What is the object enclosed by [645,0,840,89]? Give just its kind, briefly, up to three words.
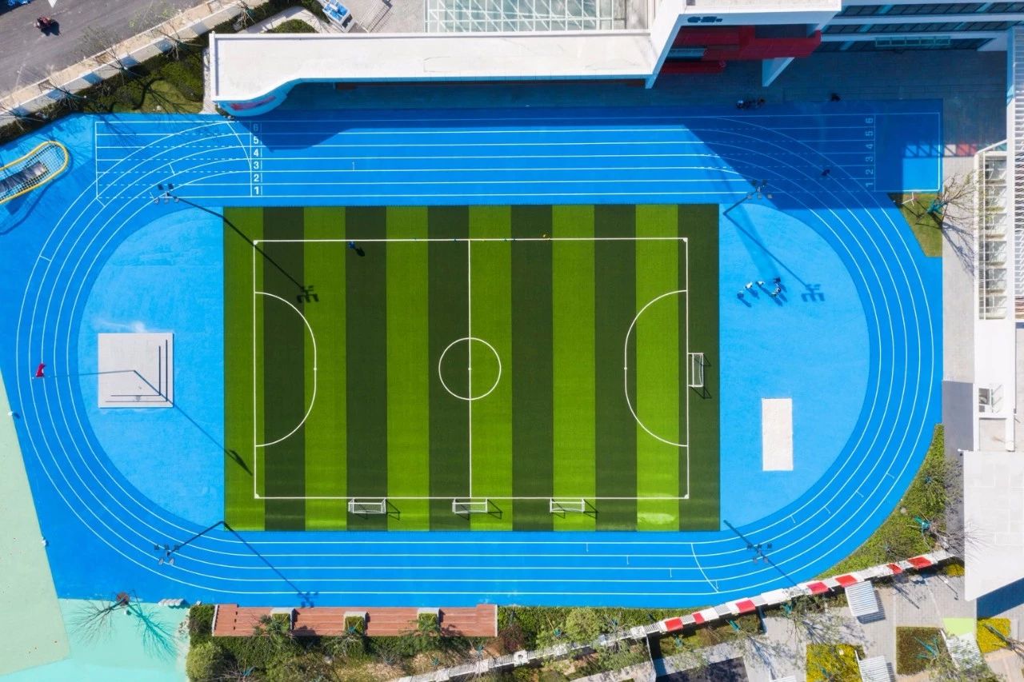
building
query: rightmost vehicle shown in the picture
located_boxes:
[311,0,357,32]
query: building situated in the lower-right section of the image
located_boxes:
[960,449,1024,601]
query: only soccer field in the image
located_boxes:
[223,203,721,532]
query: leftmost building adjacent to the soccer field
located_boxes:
[210,32,658,115]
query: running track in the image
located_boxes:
[0,100,943,609]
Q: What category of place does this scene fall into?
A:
sports ground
